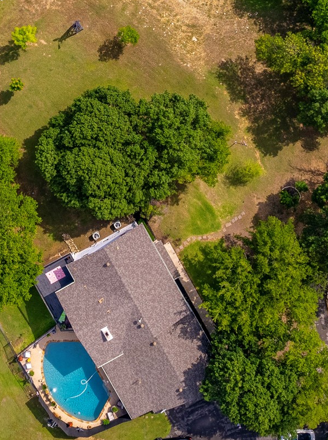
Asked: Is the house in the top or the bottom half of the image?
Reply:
bottom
